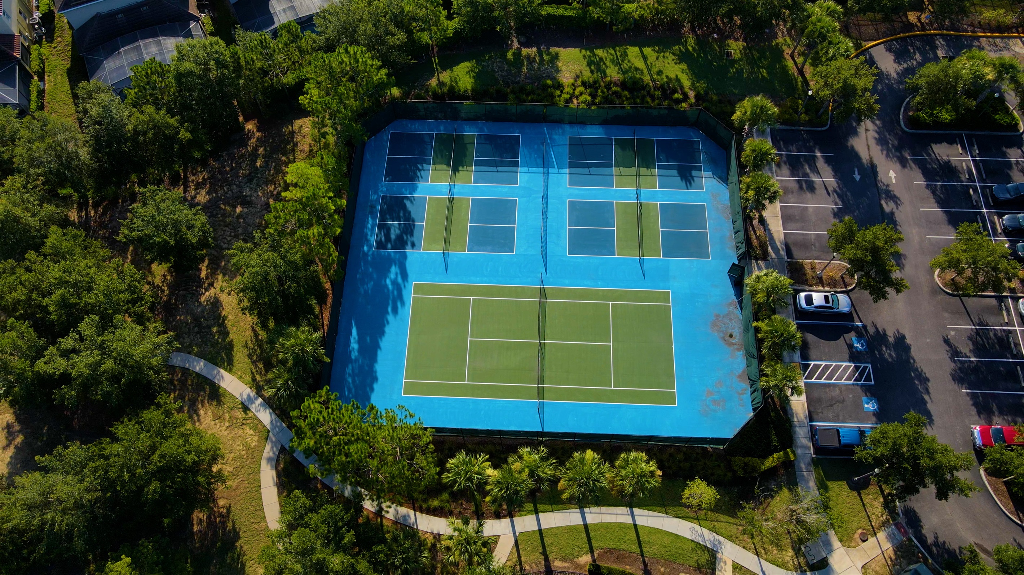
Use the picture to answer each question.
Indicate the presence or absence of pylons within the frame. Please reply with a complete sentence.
No, I can't see a single pylon in this photo.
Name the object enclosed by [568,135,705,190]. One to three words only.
sports court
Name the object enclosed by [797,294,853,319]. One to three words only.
car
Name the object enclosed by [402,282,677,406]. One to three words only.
tennis court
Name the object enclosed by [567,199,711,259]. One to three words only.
sports court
